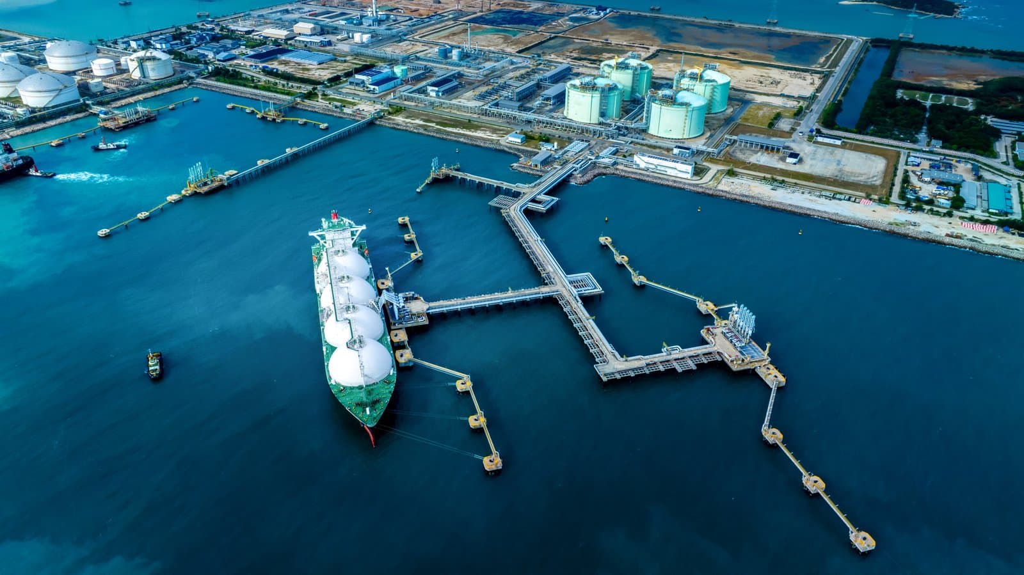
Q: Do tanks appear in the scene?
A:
Yes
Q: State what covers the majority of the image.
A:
water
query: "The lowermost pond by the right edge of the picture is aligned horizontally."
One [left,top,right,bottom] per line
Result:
[895,51,1024,73]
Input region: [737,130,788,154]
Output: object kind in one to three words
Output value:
shed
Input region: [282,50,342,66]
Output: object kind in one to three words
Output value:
building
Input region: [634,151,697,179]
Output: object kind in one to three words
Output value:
building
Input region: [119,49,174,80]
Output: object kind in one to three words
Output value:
storage tank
